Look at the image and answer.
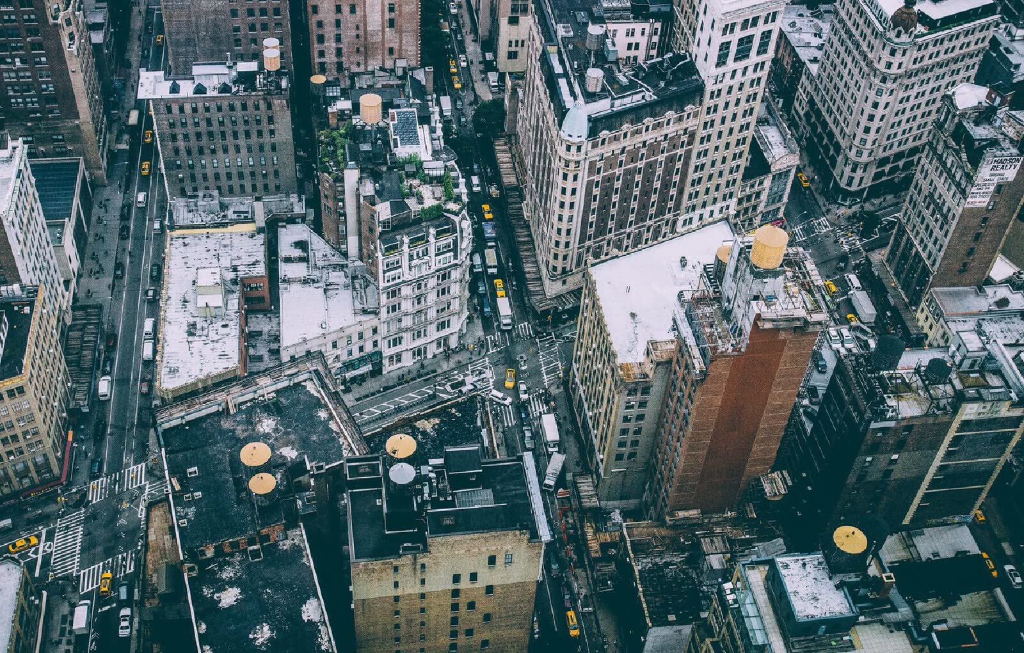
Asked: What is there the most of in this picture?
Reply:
buildings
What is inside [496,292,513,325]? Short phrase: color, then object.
white vehicle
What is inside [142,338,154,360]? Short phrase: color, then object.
white vehicle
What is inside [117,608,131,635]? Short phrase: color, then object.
white car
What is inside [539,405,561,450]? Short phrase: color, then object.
white truck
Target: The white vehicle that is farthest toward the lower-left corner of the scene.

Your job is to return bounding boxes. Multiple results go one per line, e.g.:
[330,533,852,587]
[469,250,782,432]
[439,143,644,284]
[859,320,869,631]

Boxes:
[68,598,90,633]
